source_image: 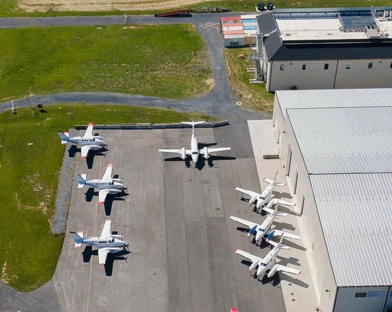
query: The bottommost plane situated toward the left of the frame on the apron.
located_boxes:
[73,217,130,267]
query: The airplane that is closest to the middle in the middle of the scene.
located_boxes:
[157,123,233,166]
